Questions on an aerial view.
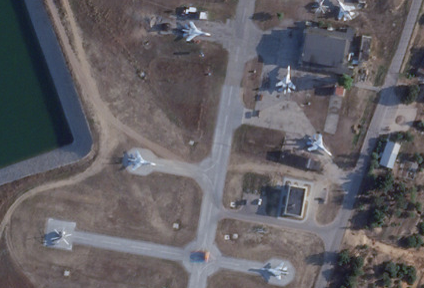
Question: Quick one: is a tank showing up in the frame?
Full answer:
No, I can see no tank in this picture.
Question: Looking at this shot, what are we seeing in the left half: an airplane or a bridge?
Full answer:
There is an airplane in the left half.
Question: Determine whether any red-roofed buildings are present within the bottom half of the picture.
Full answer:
No, no red-roofed building appears within the bottom half of the picture.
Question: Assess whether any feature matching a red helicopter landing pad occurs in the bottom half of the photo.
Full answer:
No, in the bottom half of the photo there is no red helicopter landing pad.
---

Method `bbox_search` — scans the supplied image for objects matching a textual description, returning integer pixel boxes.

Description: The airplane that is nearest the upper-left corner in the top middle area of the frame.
[180,20,211,41]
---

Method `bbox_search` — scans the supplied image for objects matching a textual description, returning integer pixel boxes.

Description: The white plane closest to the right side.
[336,0,356,24]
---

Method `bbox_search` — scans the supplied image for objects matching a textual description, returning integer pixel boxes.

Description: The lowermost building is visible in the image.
[285,186,307,218]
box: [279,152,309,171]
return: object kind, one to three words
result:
building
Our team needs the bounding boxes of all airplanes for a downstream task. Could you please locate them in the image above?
[306,132,331,155]
[259,262,292,282]
[127,152,156,171]
[336,0,356,24]
[180,20,211,41]
[279,66,298,95]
